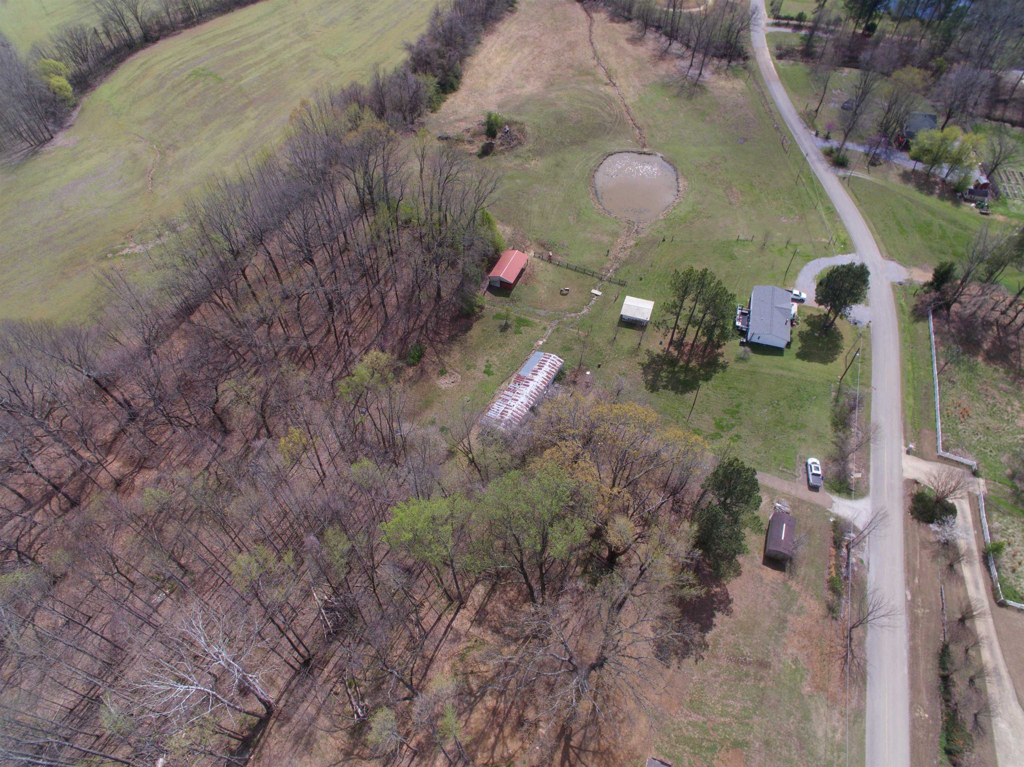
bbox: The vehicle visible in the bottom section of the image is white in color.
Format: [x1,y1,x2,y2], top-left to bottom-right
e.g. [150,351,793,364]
[804,457,823,486]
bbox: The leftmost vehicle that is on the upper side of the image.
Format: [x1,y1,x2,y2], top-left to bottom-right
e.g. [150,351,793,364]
[791,290,809,302]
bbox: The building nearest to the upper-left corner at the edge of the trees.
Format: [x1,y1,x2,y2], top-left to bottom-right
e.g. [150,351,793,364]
[489,249,529,292]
